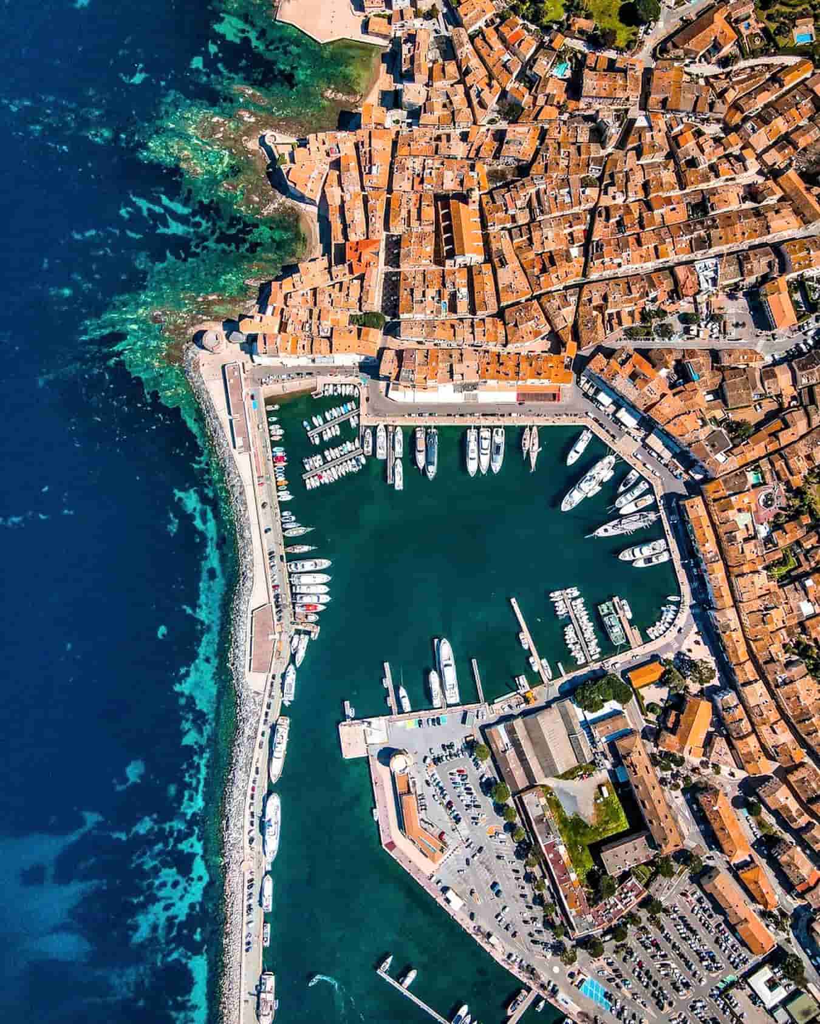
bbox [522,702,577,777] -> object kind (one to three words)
building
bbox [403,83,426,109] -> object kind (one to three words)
house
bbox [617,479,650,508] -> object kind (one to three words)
boat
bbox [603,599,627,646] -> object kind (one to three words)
ship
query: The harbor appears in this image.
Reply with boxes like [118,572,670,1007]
[255,375,691,1024]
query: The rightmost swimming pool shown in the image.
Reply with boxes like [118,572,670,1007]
[794,31,817,45]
